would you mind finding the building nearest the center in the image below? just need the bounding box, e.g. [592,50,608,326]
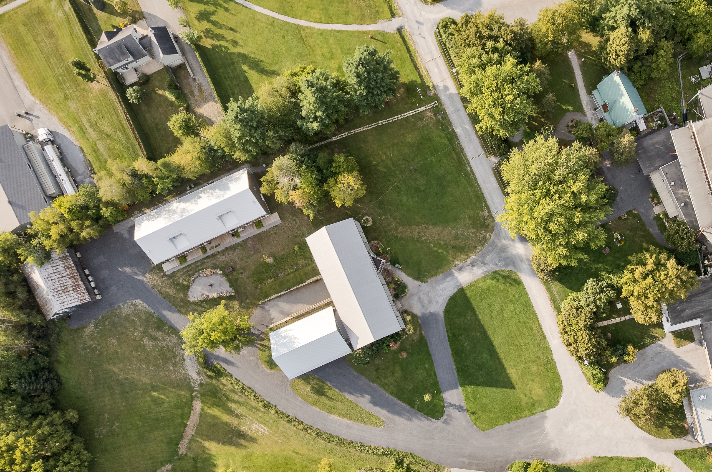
[306,218,404,350]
